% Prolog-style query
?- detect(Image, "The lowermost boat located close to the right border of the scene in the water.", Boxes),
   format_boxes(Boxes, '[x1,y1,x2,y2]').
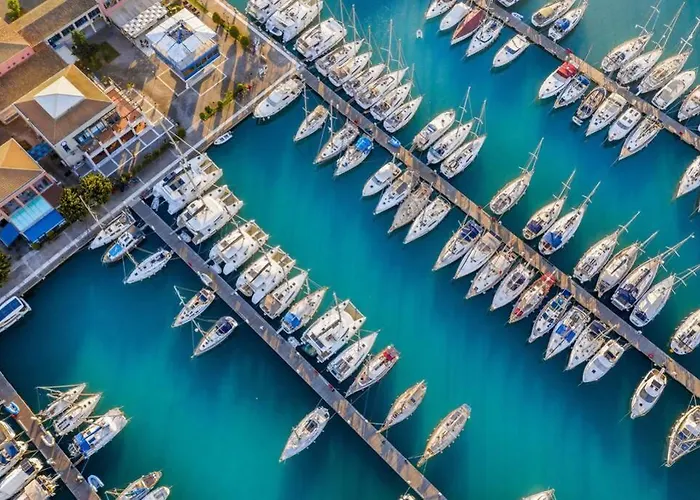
[656,410,700,474]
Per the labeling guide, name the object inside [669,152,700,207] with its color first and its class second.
white boat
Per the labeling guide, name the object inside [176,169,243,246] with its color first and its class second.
white boat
